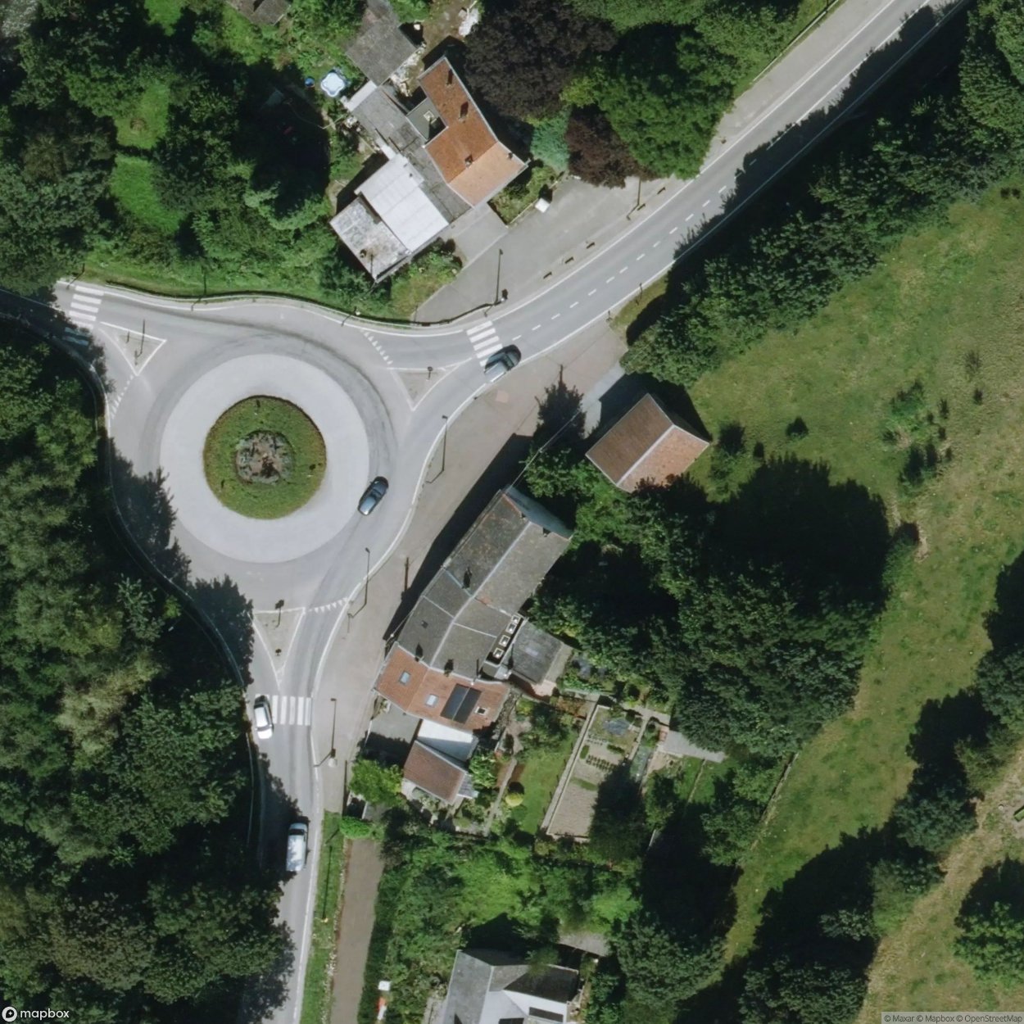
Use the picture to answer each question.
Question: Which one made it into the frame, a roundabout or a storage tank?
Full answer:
Looking from above, you can make out a roundabout.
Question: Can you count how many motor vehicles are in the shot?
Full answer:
Altogether the scene contains 4 motor vehicles.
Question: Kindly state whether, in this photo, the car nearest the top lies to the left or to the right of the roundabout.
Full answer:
The car nearest the top can be seen on the right of the roundabout.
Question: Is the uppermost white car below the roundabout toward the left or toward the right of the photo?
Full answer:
It is on the left.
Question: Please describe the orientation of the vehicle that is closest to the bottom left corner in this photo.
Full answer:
The vehicle that is closest to the bottom left corner is oriented from top to bottom.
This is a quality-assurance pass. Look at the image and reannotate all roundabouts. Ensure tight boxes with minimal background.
[163,355,367,561]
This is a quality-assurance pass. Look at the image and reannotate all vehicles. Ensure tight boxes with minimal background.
[482,344,524,378]
[254,698,275,737]
[287,825,308,872]
[358,476,389,516]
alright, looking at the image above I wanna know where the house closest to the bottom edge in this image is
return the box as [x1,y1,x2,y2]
[444,946,583,1024]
